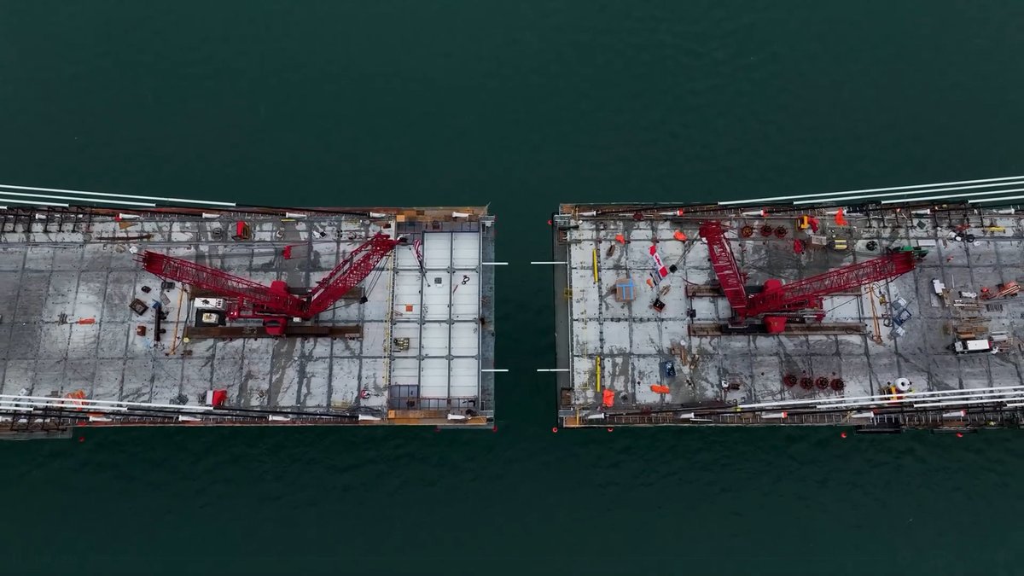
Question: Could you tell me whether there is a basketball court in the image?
No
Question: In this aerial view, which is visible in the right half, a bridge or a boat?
bridge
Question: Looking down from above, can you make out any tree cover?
No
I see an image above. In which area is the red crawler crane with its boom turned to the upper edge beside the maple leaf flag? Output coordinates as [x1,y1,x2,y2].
[668,214,920,335]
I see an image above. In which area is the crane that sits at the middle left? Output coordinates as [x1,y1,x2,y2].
[133,232,426,336]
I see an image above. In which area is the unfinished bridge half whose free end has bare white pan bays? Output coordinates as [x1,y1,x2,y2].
[0,184,509,441]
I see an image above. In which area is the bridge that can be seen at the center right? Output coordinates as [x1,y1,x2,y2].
[530,176,1024,438]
